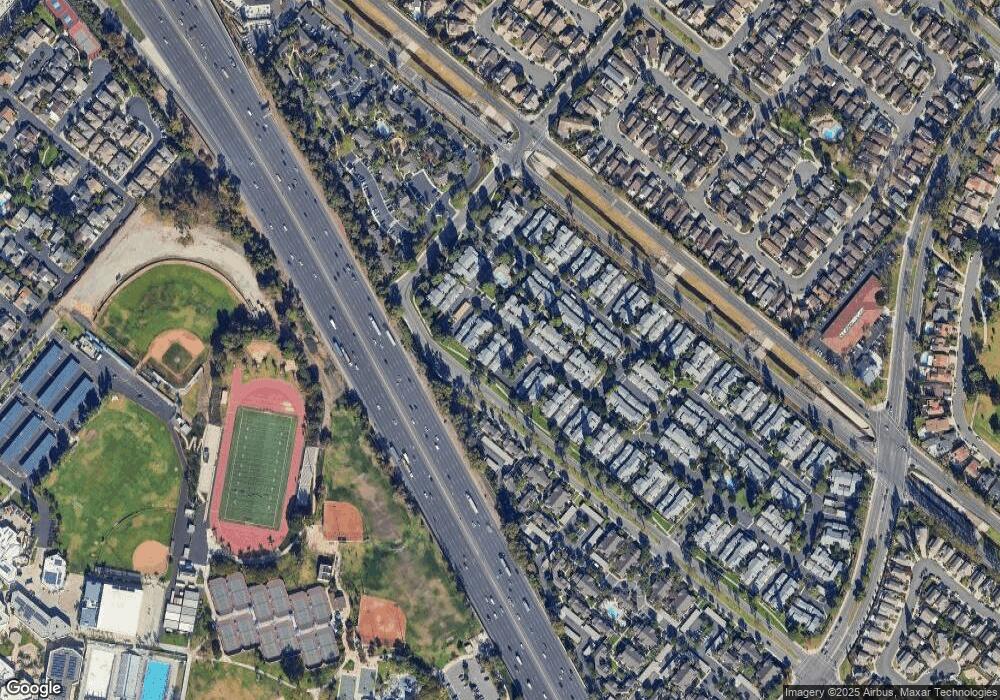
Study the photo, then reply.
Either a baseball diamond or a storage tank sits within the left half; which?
baseball diamond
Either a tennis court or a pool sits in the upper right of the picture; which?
pool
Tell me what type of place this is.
residential area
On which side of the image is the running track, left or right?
left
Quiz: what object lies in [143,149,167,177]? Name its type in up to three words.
house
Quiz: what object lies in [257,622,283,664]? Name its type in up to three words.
tennis court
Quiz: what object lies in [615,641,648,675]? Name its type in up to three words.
building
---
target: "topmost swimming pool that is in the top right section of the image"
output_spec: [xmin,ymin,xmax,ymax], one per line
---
[812,122,842,142]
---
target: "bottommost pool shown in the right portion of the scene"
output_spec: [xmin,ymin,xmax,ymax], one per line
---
[604,599,622,620]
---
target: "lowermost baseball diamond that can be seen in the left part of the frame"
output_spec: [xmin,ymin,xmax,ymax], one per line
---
[358,596,405,644]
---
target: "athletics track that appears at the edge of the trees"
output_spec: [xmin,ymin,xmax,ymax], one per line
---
[209,368,306,555]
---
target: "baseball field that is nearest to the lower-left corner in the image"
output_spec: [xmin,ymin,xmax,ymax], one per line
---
[46,397,180,575]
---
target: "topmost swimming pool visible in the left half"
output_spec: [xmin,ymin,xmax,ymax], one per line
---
[374,118,396,138]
